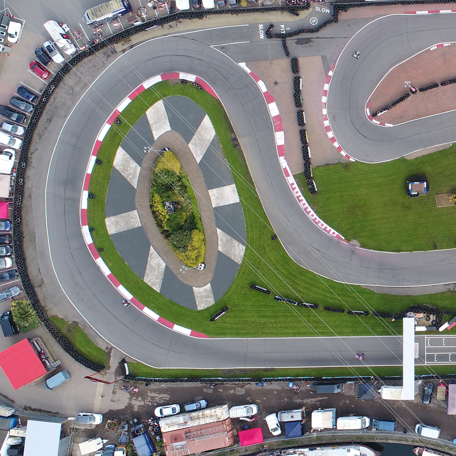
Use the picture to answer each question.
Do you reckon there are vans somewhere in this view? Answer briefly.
Yes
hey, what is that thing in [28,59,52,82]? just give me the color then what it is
red car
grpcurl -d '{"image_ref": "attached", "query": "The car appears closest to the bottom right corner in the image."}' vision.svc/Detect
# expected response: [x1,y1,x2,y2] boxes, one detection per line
[414,423,442,439]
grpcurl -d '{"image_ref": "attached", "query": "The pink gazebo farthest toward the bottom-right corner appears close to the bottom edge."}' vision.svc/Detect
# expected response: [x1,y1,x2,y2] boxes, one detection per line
[239,425,268,446]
